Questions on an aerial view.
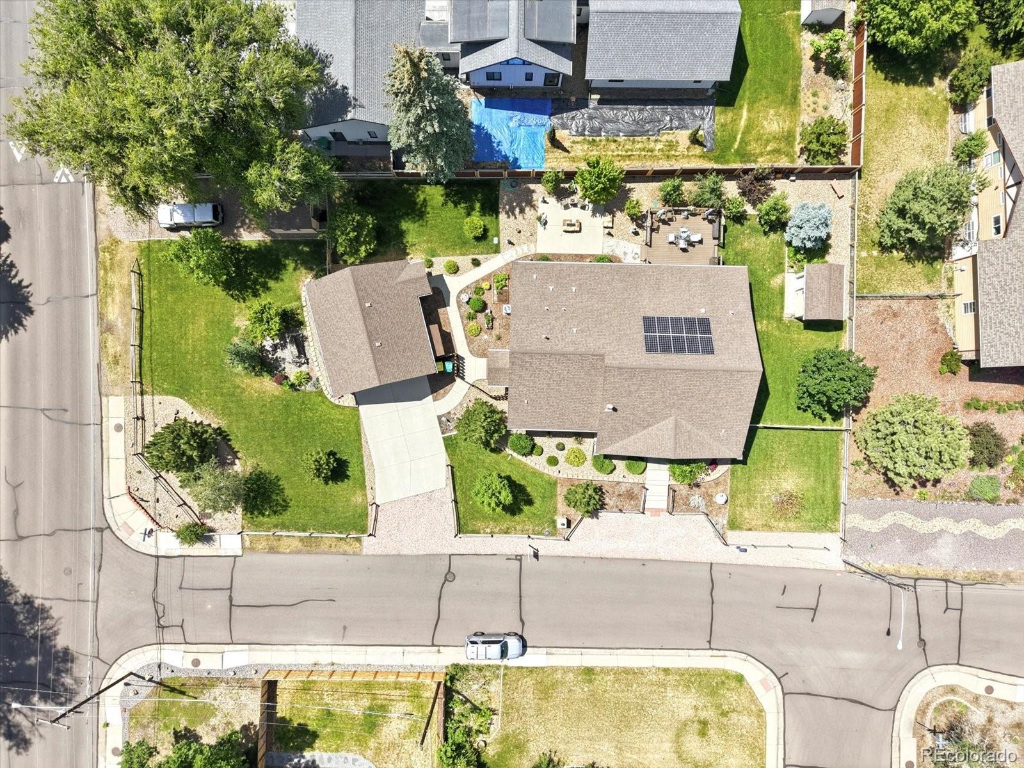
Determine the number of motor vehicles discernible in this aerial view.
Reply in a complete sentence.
My tally gives 2 motor vehicles in this view.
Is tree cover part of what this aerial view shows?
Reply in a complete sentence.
Yes, the picture does contain tree cover.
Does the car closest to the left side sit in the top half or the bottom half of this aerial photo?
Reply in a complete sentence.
The top half of the photo is where the car closest to the left side is.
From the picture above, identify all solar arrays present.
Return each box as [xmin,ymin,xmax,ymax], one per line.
[643,315,714,353]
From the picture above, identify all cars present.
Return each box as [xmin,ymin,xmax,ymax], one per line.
[162,202,228,231]
[464,632,524,664]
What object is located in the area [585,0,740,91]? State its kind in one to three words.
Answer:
barn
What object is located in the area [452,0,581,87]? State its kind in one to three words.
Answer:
house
